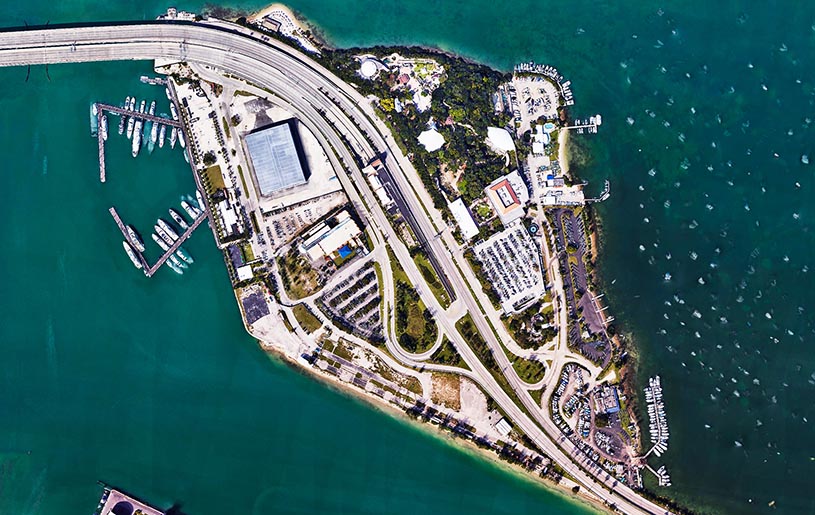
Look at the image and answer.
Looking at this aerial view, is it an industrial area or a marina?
marina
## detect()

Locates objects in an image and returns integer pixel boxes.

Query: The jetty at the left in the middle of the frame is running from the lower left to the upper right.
[147,210,207,275]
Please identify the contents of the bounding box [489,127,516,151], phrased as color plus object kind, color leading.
white tent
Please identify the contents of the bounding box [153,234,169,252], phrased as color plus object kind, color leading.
white boat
